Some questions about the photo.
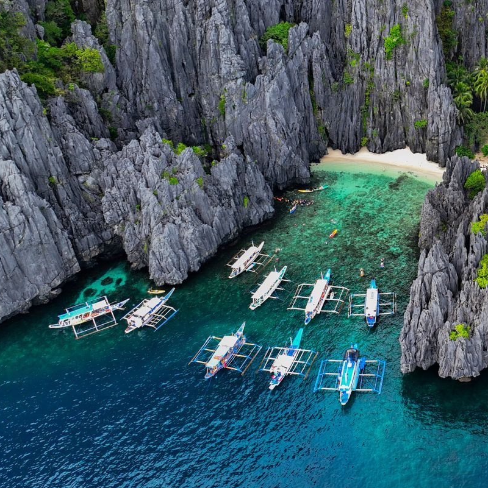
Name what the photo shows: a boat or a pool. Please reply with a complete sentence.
The one in the frame is a boat.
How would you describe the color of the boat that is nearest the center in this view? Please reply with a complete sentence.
The boat that is nearest the center looks white in the image.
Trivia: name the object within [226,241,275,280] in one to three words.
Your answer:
boat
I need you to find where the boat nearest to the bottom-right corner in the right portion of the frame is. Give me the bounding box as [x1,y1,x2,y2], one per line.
[313,342,386,406]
